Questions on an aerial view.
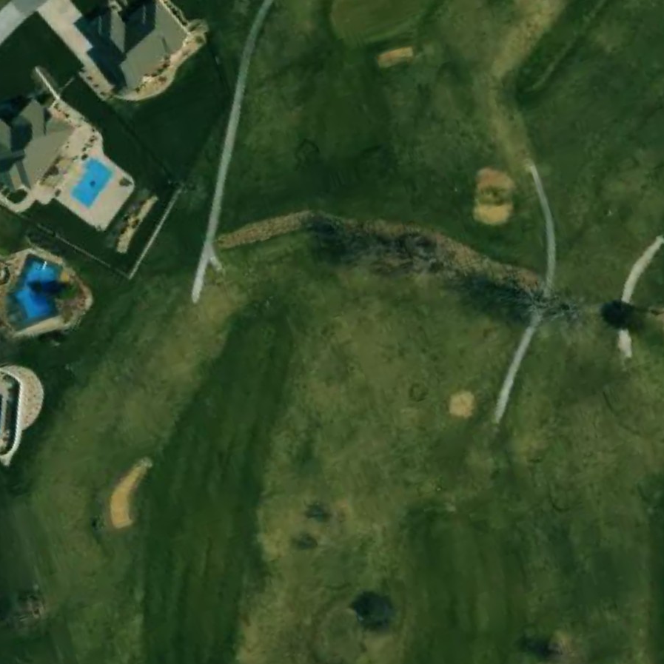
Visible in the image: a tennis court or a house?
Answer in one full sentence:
There is a house in the scene.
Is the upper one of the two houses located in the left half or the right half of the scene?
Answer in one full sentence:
The upper one of the two houses appears in the left half of the scene.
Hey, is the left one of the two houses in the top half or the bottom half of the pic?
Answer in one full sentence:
The left one of the two houses is in the top half of the image.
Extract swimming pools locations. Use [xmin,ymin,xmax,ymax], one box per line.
[0,372,17,451]
[6,253,61,331]
[23,131,134,231]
